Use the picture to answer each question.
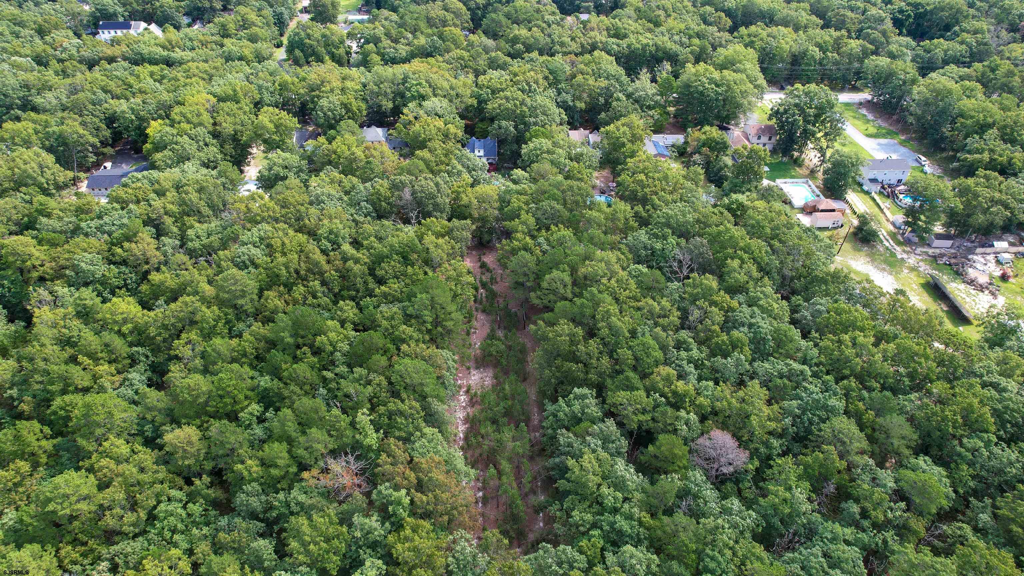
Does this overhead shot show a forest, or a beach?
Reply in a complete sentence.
This image shows a forest.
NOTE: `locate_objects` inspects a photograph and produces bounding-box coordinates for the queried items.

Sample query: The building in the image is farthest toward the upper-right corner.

[855,153,913,192]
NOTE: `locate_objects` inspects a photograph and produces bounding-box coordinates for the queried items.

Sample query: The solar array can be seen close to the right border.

[926,274,987,327]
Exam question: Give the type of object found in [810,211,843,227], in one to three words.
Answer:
shed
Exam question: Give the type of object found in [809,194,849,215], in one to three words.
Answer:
building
